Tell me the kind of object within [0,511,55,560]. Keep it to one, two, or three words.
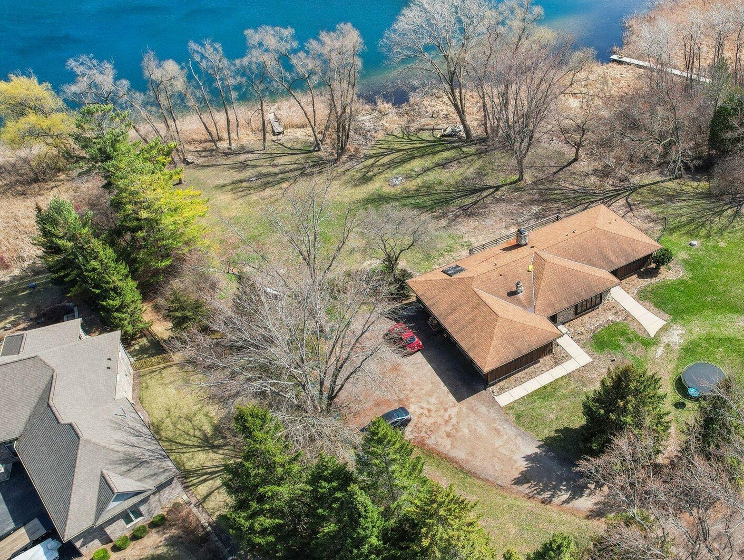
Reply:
trailer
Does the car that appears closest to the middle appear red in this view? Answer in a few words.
Yes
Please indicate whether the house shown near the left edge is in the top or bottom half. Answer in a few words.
bottom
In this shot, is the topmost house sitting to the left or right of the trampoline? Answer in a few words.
to the left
